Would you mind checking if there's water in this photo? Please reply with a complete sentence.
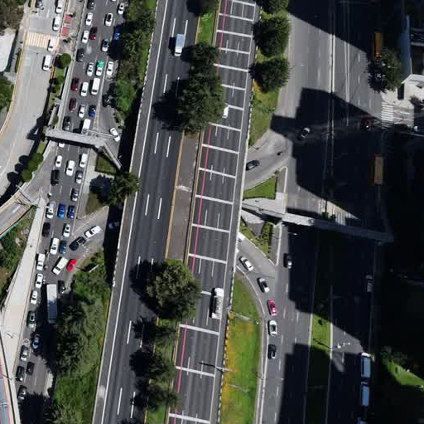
No, the scene doesn't show any water.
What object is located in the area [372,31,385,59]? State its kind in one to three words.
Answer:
vehicle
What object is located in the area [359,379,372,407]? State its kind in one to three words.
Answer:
vehicle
